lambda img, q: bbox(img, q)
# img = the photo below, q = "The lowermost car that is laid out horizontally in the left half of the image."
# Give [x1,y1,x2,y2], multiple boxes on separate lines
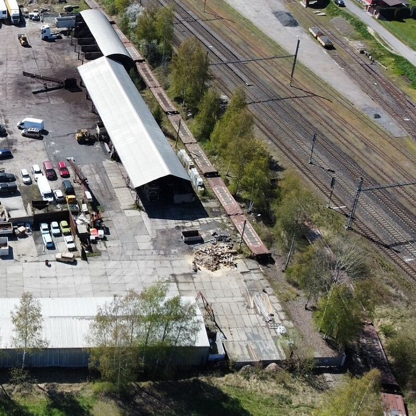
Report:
[51,250,79,263]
